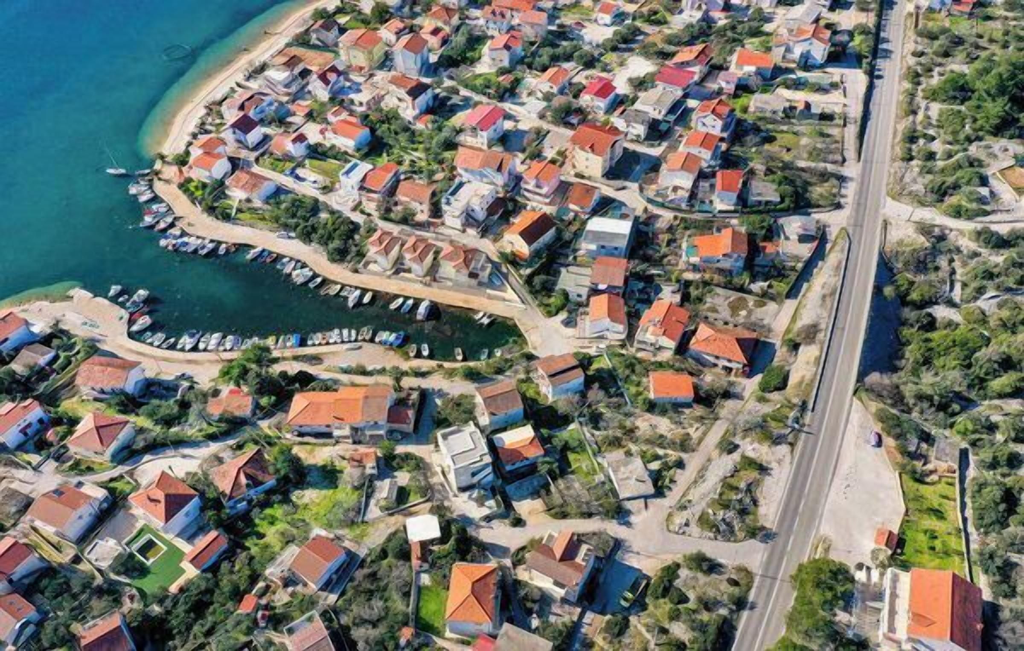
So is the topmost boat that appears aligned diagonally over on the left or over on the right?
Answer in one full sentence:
You can find the topmost boat that appears aligned diagonally on the left side of the picture.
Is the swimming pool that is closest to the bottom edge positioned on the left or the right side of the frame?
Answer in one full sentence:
The swimming pool that is closest to the bottom edge sits on the left side.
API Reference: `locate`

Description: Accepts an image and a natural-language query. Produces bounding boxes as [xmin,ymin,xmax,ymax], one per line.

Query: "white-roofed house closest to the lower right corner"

[869,563,912,651]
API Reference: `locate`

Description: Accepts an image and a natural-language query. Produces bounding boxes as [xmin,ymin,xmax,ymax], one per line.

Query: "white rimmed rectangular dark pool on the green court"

[130,533,168,566]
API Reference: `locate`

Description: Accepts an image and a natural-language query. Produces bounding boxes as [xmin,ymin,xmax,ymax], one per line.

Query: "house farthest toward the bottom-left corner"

[0,587,48,650]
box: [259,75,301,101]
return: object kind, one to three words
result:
building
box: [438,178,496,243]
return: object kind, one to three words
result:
house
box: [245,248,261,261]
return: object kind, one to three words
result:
boat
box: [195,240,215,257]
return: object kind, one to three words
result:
boat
